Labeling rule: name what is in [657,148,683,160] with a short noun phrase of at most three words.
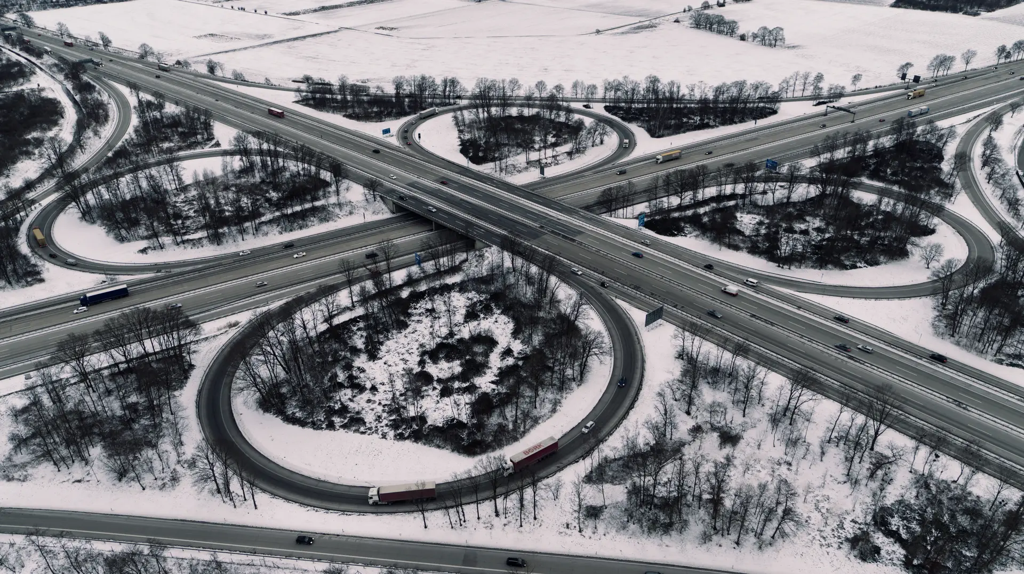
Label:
vehicle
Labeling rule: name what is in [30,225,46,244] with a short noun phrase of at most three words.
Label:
vehicle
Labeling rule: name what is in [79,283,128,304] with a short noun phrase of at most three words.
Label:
truck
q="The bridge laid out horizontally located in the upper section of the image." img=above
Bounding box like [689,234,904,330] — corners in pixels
[387,172,593,252]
